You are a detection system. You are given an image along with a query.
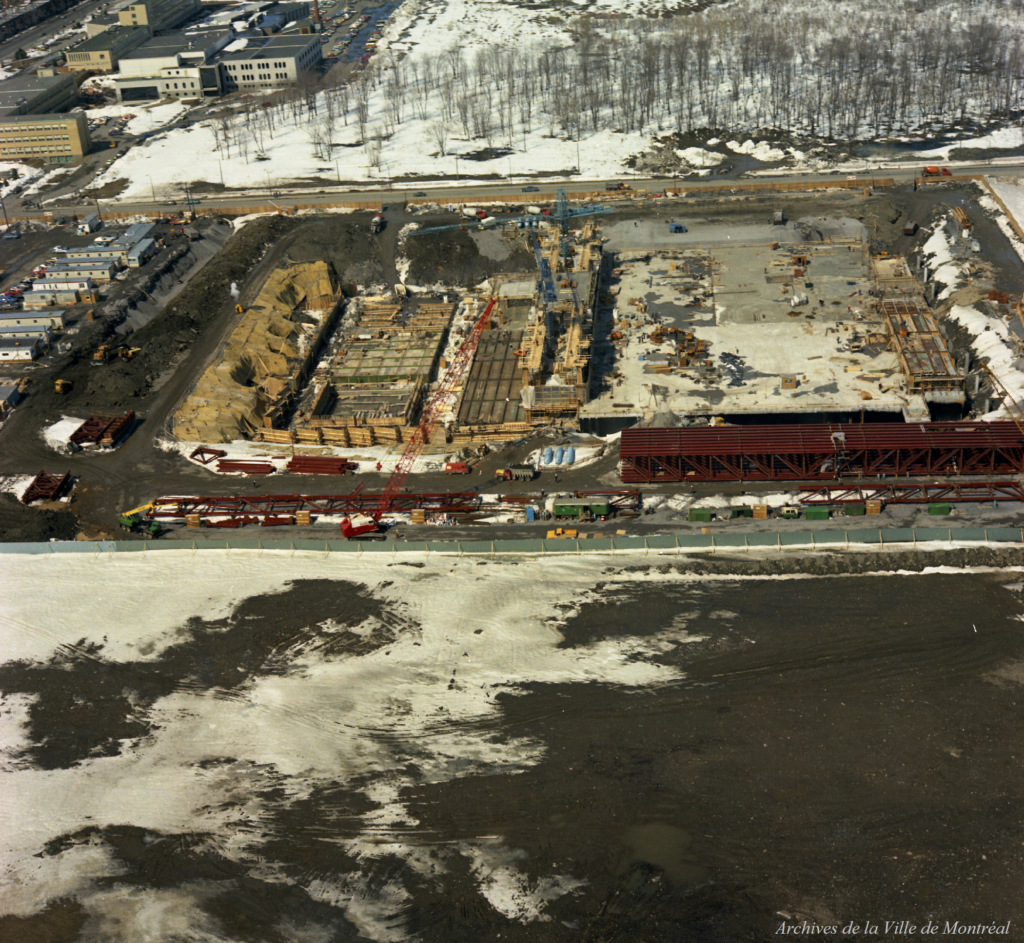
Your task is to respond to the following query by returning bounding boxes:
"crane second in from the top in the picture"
[529,225,555,355]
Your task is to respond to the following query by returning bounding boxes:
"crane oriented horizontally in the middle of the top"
[401,182,612,260]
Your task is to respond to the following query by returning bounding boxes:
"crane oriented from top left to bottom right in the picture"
[980,362,1024,432]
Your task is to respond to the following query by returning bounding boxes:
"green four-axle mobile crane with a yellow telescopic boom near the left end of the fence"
[111,497,179,537]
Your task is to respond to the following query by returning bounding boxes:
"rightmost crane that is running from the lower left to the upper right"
[339,295,503,541]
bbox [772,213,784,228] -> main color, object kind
gray vehicle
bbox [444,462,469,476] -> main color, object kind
red vehicle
